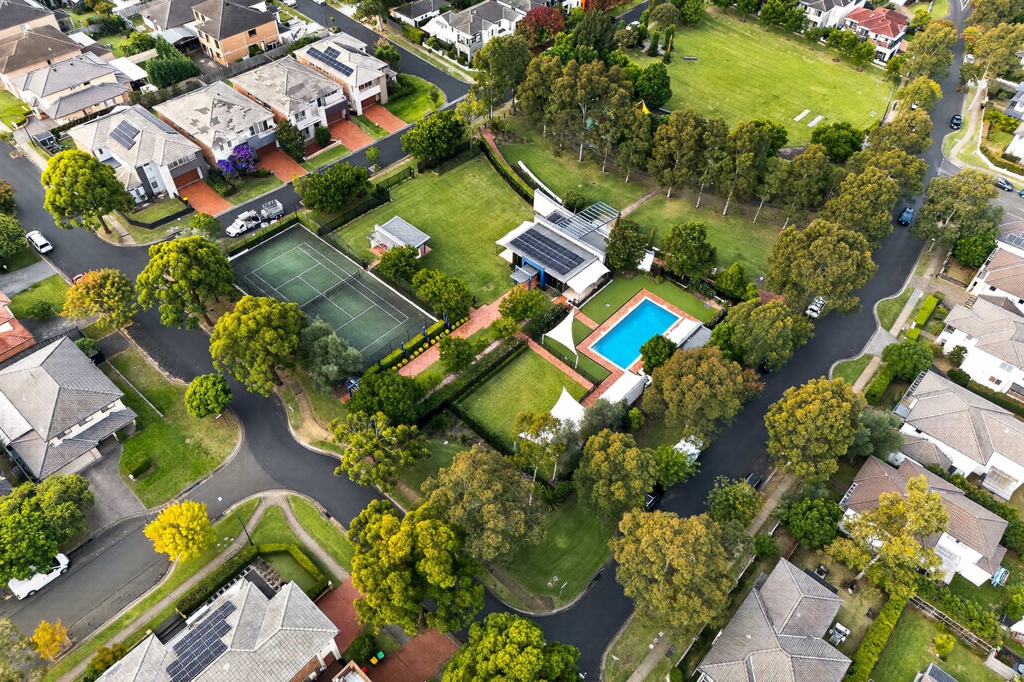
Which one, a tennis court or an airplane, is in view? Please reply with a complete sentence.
The image shows a tennis court.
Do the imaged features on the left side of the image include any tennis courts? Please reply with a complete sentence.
Yes, you'll find a tennis court on the left side of the image.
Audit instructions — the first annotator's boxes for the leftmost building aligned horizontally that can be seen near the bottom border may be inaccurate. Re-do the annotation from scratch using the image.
[92,579,343,682]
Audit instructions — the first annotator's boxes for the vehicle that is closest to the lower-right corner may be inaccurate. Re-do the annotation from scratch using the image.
[744,465,770,490]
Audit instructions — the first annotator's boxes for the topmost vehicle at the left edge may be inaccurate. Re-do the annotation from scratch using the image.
[27,228,52,249]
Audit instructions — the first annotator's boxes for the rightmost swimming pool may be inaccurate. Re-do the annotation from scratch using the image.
[593,299,680,371]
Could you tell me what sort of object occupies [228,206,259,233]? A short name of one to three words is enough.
truck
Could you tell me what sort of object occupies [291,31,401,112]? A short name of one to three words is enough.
house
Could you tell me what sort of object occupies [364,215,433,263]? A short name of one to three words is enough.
building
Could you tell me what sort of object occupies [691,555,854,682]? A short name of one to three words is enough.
house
